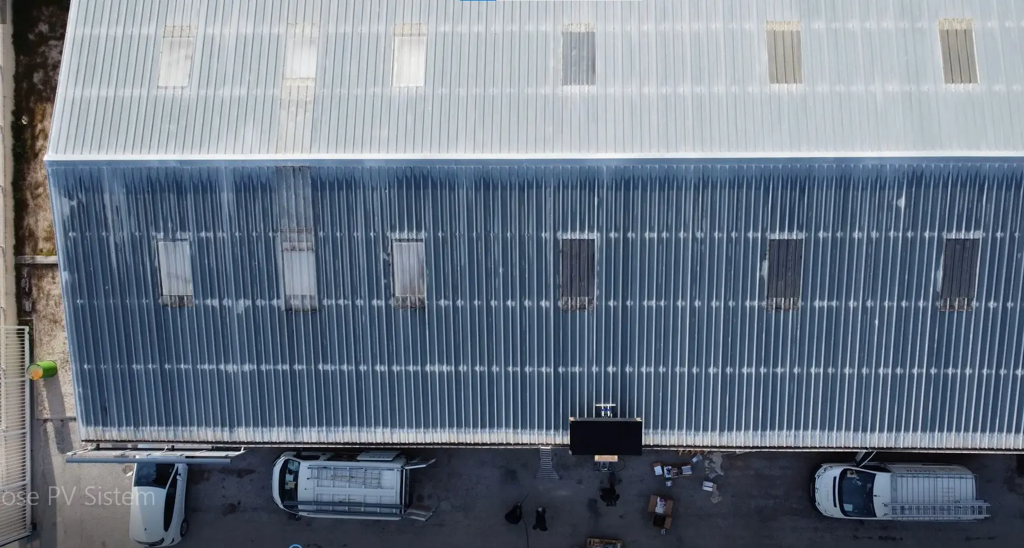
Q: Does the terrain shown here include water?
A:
No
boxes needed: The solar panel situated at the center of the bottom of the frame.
[570,417,642,456]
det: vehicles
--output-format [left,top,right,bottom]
[127,448,194,548]
[811,451,981,527]
[270,450,431,523]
